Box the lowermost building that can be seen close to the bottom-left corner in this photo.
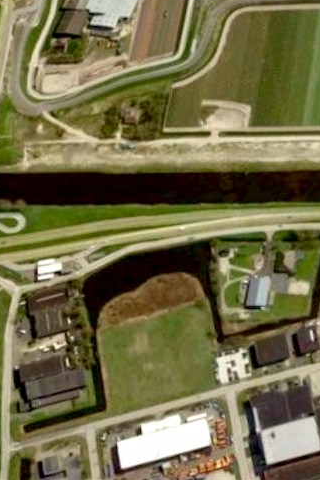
[42,454,62,476]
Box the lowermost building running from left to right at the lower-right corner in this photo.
[265,455,320,480]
